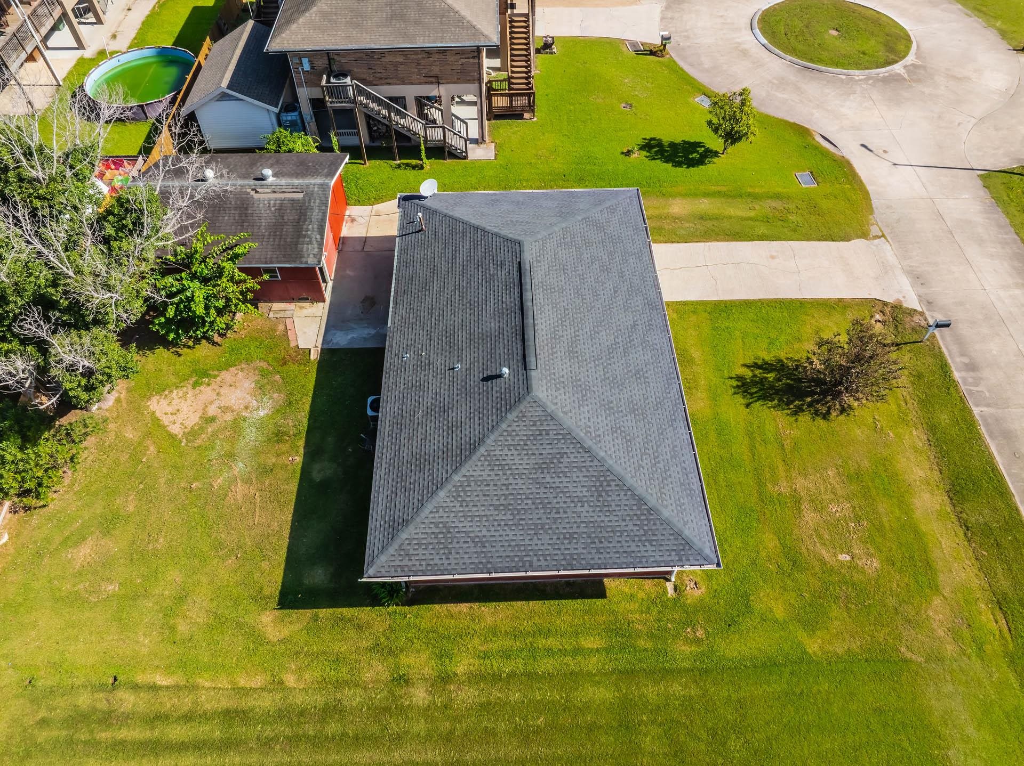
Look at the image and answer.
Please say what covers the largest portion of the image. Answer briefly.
grass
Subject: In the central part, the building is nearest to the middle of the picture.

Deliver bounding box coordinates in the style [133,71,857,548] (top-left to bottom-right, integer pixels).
[363,187,722,593]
